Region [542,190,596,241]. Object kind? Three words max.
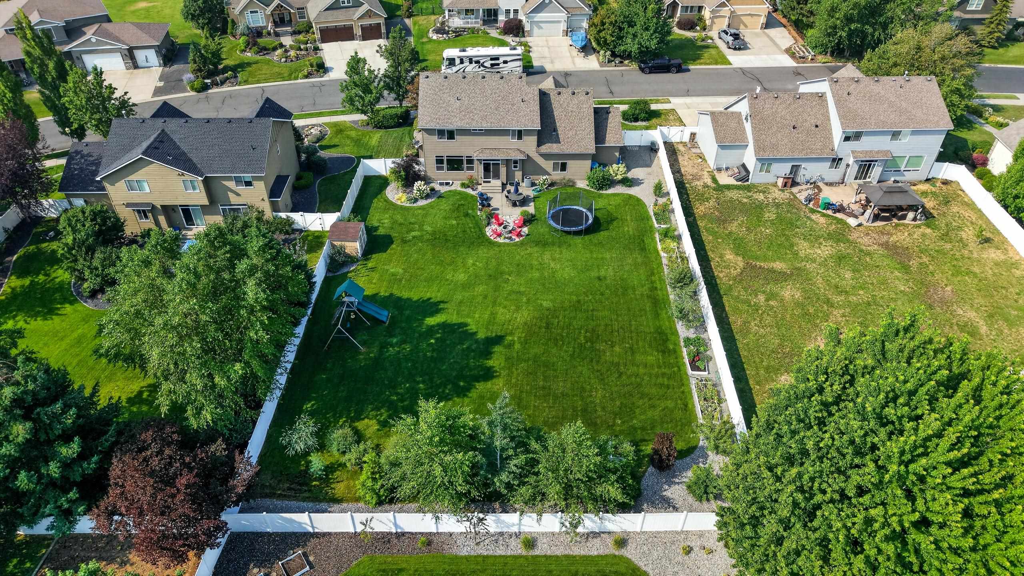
trampoline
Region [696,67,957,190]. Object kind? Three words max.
house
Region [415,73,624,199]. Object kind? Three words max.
house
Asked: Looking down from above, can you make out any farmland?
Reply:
No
